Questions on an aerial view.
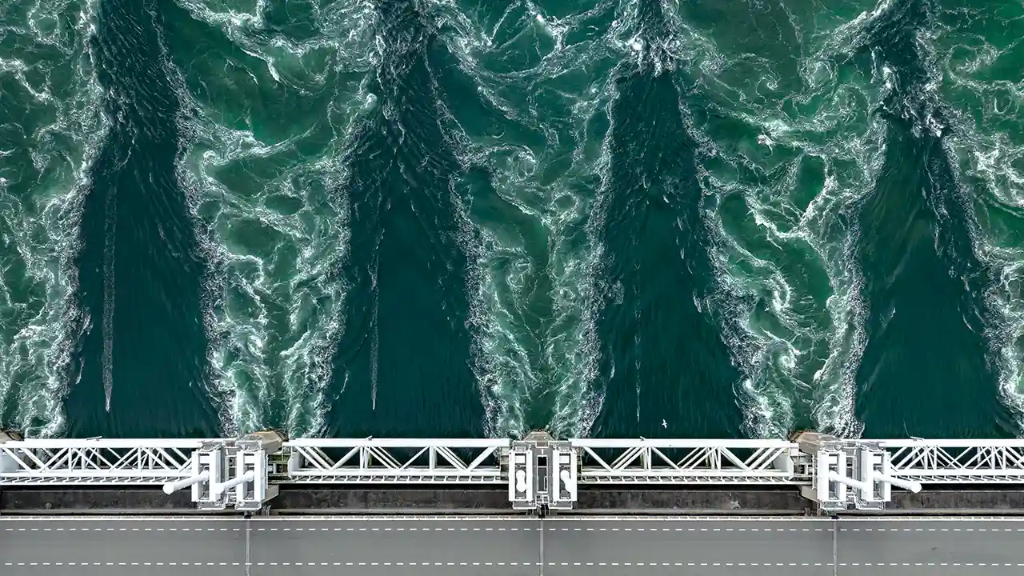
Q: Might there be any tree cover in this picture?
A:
No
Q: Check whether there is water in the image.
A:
Yes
